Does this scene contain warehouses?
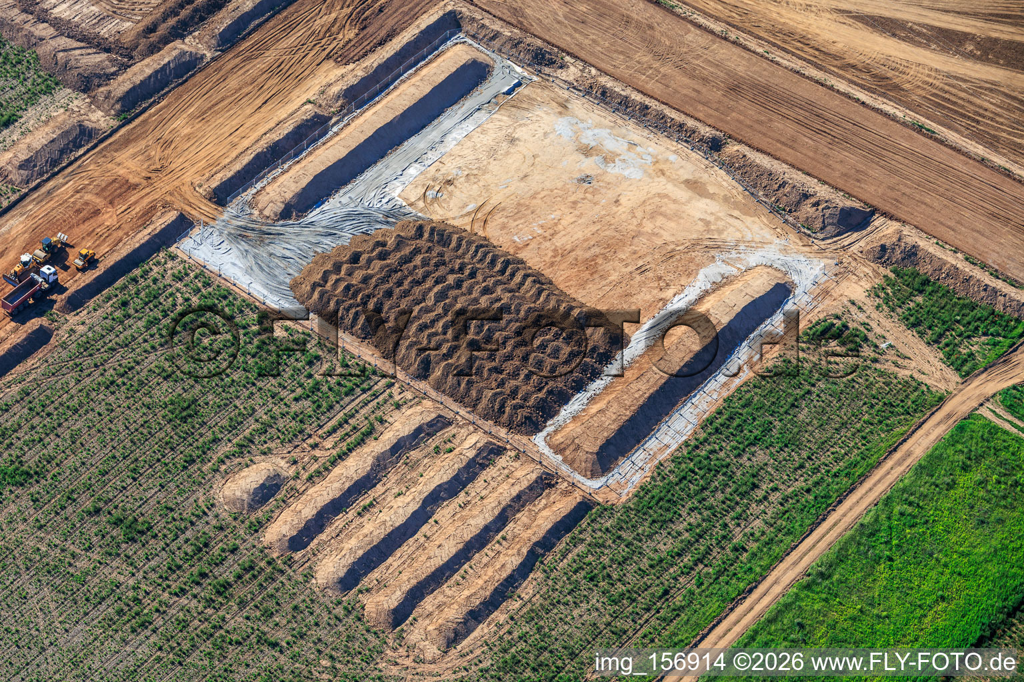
No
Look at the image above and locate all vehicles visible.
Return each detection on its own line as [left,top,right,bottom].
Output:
[0,265,63,318]
[6,255,39,285]
[70,248,94,269]
[31,229,72,266]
